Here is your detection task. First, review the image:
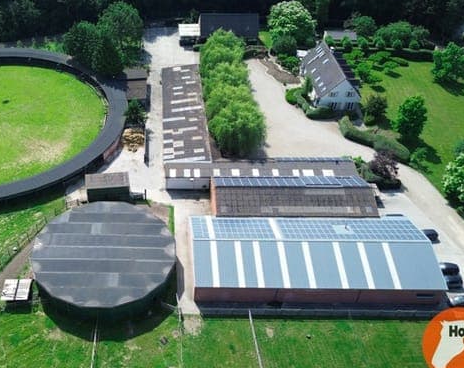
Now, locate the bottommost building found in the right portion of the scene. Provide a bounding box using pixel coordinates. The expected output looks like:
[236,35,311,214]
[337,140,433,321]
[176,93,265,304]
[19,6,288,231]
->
[186,216,447,305]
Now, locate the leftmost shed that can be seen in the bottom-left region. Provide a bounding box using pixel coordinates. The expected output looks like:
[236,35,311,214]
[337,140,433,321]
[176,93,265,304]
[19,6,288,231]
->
[2,278,32,309]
